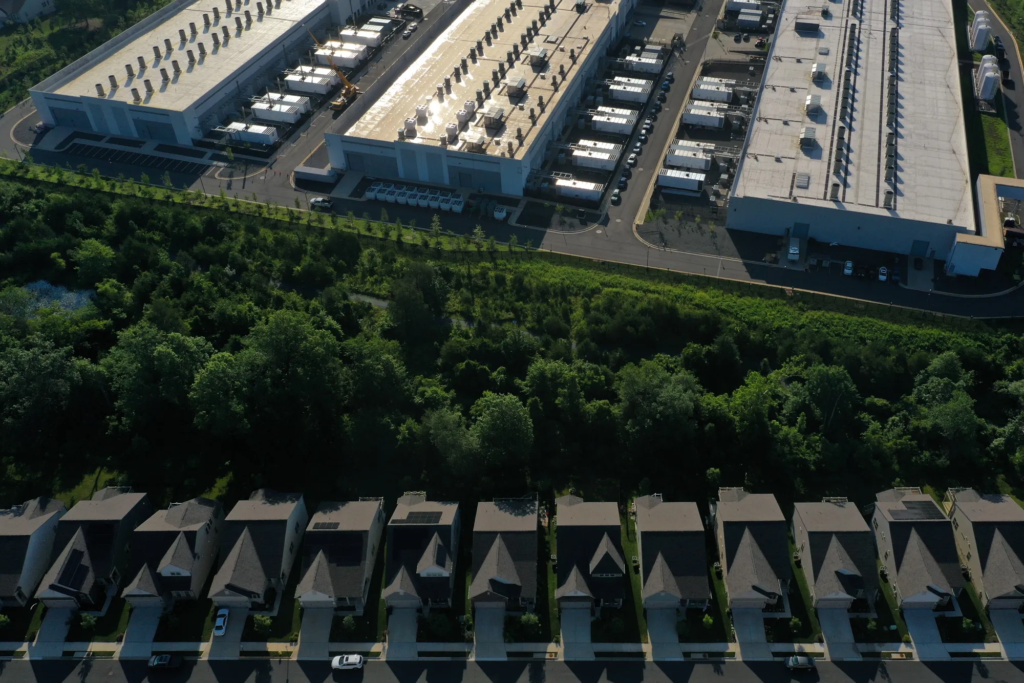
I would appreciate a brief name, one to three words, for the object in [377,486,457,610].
house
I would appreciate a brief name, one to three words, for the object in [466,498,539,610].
house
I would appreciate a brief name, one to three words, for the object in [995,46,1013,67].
vehicle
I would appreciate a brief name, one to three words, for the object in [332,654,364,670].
car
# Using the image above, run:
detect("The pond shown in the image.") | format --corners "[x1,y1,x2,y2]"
[17,280,95,313]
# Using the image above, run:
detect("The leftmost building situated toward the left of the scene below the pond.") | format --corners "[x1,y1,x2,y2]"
[0,488,77,612]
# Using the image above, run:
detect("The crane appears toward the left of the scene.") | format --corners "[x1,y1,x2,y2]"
[303,24,363,109]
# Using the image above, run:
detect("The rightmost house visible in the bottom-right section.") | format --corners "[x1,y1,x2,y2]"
[937,489,1024,610]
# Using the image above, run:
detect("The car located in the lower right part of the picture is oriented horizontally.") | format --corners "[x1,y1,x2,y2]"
[785,656,817,671]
